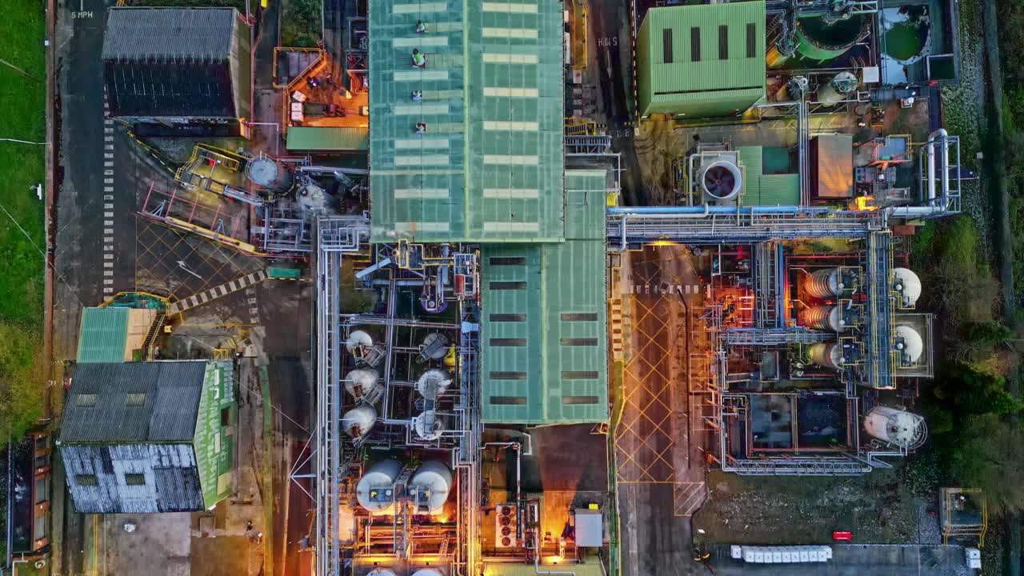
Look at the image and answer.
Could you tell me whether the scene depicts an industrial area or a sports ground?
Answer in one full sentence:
This looks like an industrial area.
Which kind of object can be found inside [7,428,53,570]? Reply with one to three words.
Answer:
building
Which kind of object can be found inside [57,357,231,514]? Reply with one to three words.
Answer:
barn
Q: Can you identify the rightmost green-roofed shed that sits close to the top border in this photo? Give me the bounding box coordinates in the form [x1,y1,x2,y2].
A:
[636,0,767,118]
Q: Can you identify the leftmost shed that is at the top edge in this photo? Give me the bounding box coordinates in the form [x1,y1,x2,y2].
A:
[98,6,258,141]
